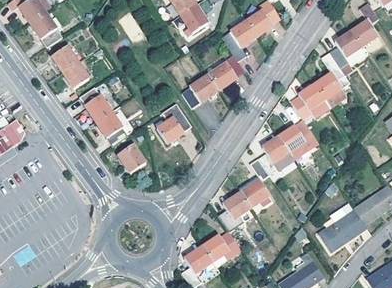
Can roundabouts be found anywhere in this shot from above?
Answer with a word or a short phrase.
Yes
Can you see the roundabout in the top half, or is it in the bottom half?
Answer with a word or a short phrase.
bottom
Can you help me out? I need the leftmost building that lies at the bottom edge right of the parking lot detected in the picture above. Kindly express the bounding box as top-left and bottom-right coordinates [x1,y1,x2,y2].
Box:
[182,244,214,288]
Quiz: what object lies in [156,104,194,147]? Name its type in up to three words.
house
